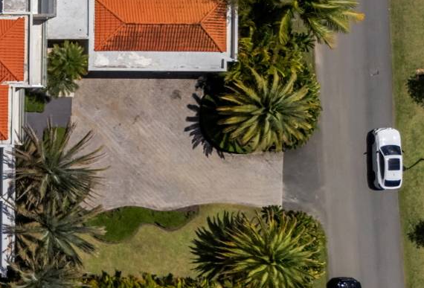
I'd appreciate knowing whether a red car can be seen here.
No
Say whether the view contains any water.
No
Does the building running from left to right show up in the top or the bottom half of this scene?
top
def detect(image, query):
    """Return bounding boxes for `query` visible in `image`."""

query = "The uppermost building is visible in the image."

[77,0,238,73]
